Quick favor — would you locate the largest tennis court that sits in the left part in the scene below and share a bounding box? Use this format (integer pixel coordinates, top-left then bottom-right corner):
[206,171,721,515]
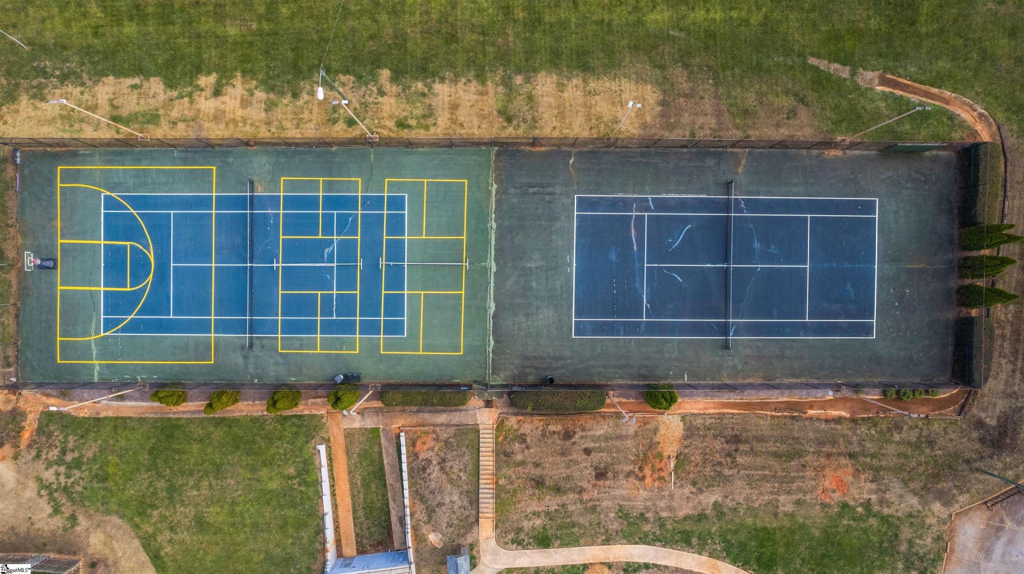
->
[19,147,490,382]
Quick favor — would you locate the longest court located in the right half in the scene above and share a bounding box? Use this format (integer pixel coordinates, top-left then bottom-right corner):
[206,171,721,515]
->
[490,147,958,383]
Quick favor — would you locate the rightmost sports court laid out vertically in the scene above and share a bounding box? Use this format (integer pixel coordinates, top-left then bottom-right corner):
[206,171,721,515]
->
[381,179,468,354]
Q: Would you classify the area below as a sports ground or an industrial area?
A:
sports ground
